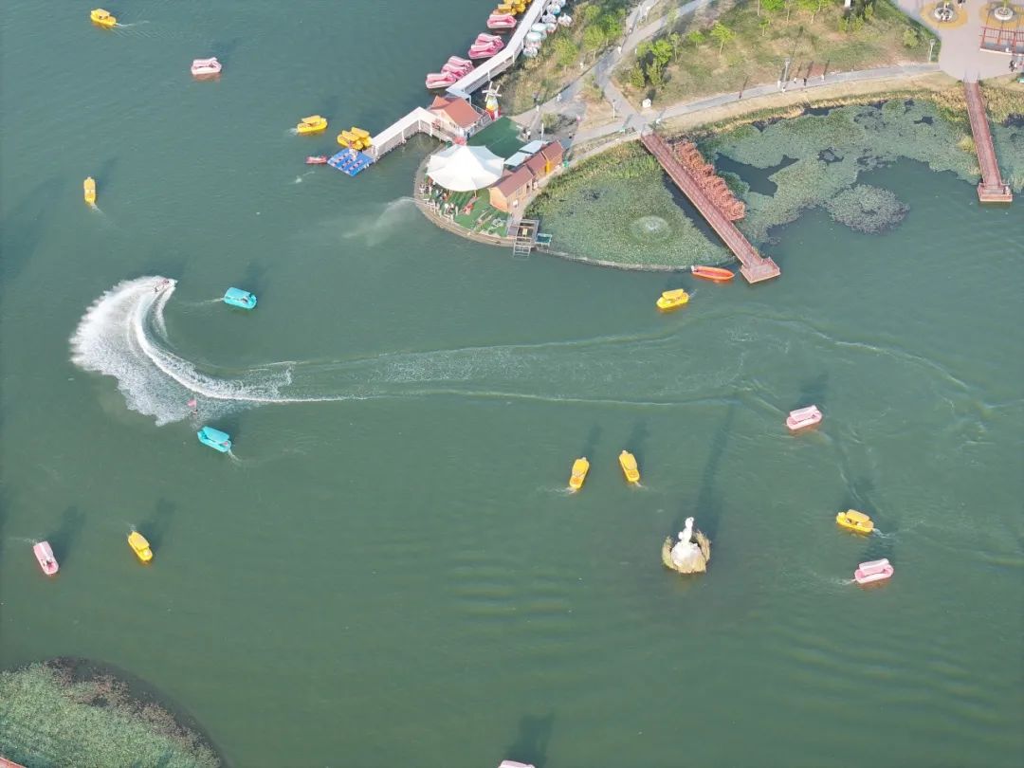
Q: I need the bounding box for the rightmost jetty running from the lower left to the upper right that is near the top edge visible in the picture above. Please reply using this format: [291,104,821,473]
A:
[447,0,557,98]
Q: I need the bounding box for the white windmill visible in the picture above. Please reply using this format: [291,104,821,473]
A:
[481,92,505,126]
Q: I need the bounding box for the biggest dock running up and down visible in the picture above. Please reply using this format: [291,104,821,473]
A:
[964,80,1014,209]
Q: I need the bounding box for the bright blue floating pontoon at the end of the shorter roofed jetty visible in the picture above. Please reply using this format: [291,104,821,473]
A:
[328,149,374,178]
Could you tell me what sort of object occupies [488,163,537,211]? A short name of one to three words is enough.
building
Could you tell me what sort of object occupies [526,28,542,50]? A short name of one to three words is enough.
boat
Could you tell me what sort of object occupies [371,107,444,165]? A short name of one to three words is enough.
pier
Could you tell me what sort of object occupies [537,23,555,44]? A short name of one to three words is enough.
boat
